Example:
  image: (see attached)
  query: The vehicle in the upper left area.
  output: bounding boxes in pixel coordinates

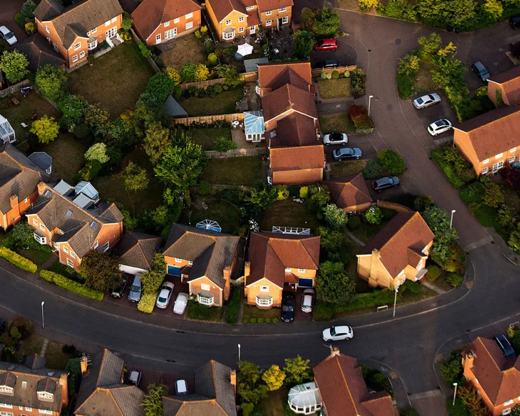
[0,26,17,47]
